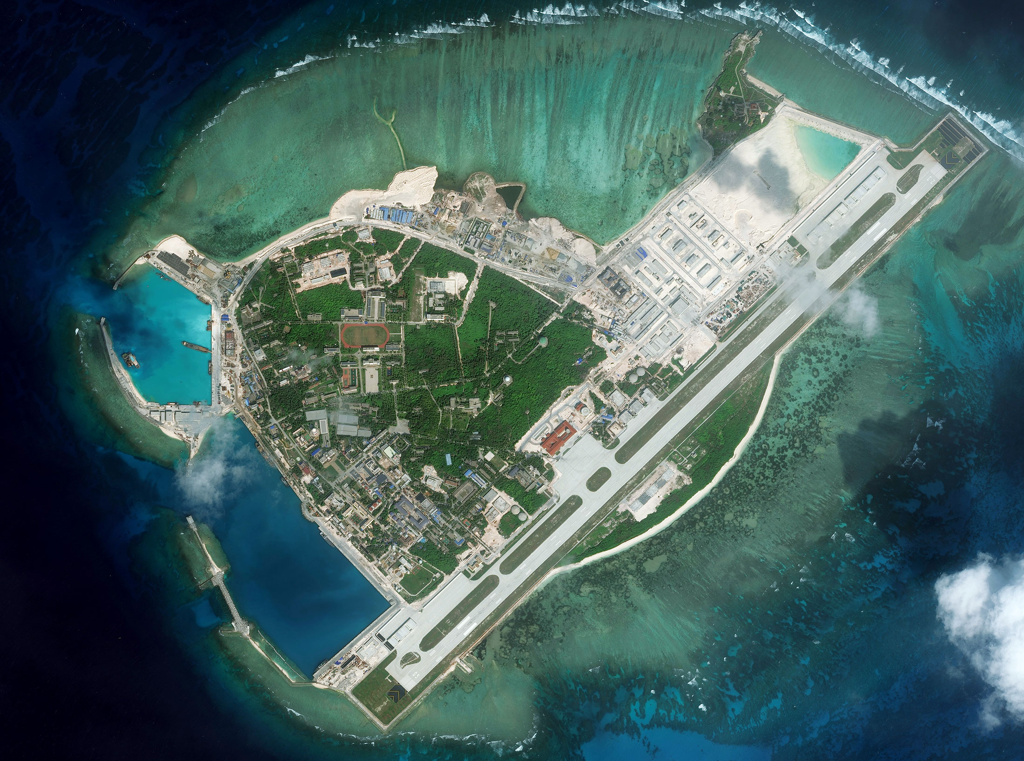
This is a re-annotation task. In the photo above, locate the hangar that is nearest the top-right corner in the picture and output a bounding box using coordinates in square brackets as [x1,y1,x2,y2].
[845,166,886,207]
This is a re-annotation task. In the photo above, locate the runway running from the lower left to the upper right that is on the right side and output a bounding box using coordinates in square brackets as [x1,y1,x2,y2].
[399,162,948,692]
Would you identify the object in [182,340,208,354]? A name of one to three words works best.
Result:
ship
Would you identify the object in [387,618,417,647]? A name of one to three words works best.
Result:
hangar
